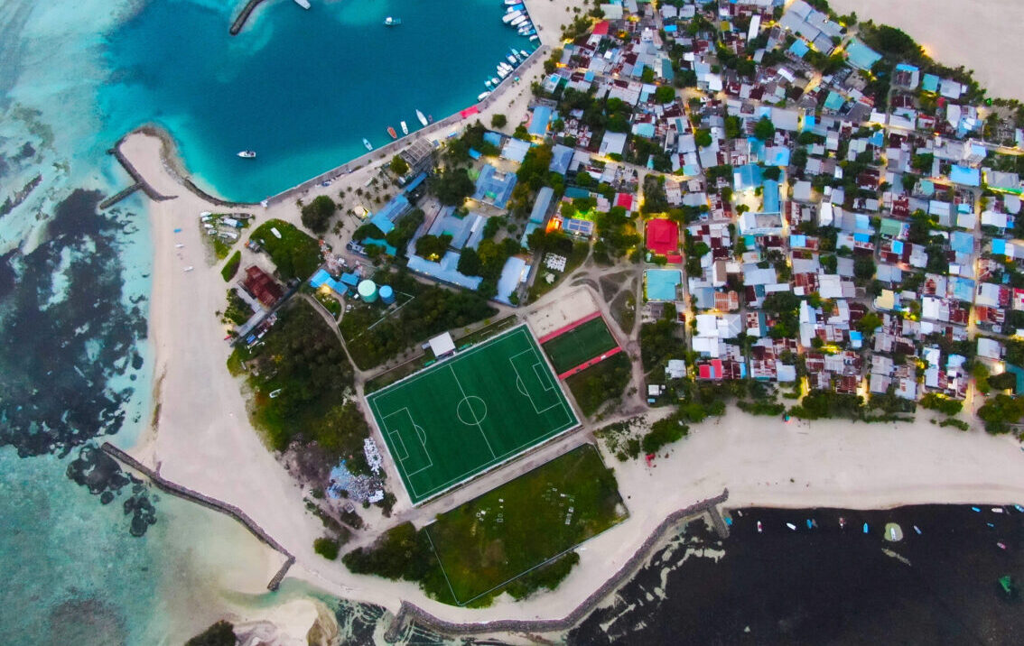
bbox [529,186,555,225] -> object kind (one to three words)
house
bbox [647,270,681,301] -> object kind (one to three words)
building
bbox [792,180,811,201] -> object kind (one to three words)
house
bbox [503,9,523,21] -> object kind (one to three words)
boat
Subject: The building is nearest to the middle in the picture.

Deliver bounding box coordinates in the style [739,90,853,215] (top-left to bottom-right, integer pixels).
[493,257,526,307]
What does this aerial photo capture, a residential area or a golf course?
residential area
